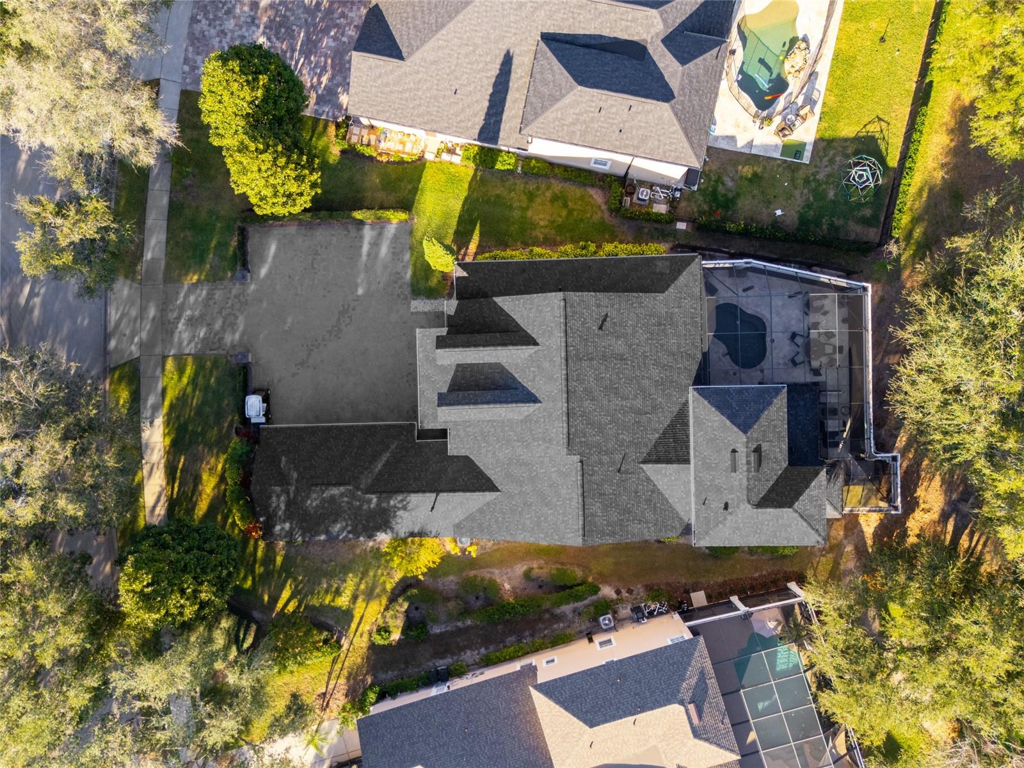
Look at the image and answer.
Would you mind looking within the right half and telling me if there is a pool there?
Yes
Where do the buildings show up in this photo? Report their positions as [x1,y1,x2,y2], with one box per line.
[357,614,734,768]
[254,255,847,546]
[345,0,726,217]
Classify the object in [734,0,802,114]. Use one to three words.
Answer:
swimming pool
